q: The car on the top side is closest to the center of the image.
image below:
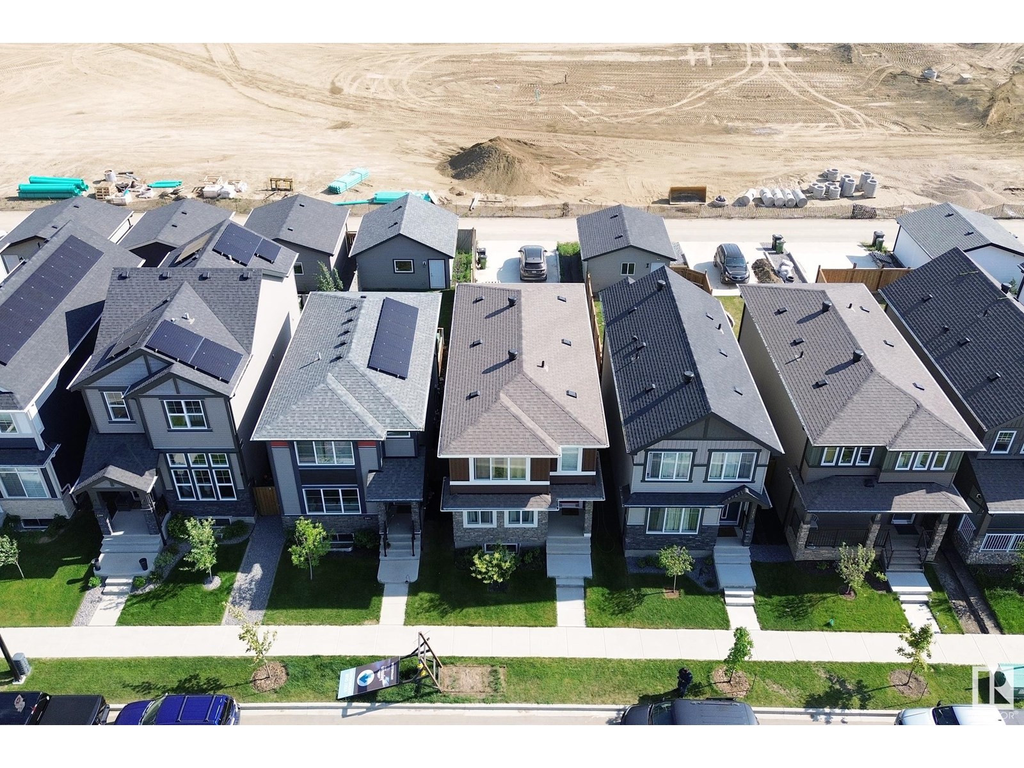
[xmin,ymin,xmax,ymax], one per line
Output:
[517,239,549,273]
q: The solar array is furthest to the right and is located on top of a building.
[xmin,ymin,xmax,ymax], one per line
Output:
[370,296,420,379]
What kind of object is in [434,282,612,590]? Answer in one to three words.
house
